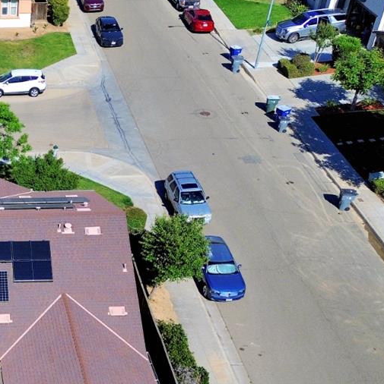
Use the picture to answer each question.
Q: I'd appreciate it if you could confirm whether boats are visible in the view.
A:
No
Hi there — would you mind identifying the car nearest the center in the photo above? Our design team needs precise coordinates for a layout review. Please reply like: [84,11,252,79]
[163,165,211,219]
